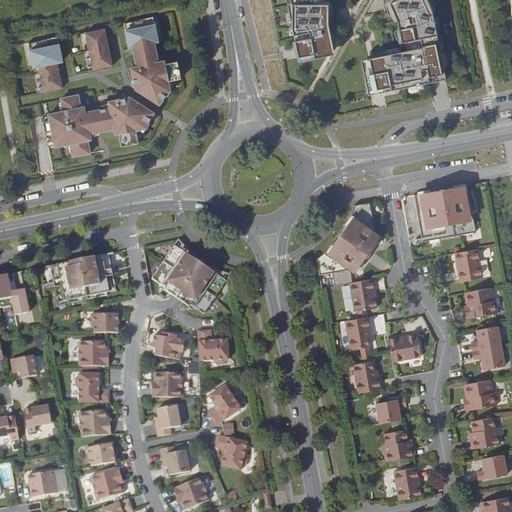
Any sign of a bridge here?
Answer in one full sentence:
No, I can't see a single bridge in this photo.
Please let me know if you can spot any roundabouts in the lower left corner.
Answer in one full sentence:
No, no roundabout is visible in the lower left corner.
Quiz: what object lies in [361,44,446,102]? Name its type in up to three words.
building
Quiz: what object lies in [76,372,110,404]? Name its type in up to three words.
house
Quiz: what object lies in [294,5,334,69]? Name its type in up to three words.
building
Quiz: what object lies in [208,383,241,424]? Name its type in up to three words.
house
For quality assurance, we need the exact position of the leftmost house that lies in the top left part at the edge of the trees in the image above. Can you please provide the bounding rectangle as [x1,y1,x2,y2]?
[29,36,64,94]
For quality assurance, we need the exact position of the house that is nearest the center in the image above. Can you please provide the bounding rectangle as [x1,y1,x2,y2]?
[166,250,226,310]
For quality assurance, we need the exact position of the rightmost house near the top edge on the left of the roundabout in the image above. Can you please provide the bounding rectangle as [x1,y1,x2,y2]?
[126,15,172,108]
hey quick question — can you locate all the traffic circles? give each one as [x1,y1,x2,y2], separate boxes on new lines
[180,66,372,278]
